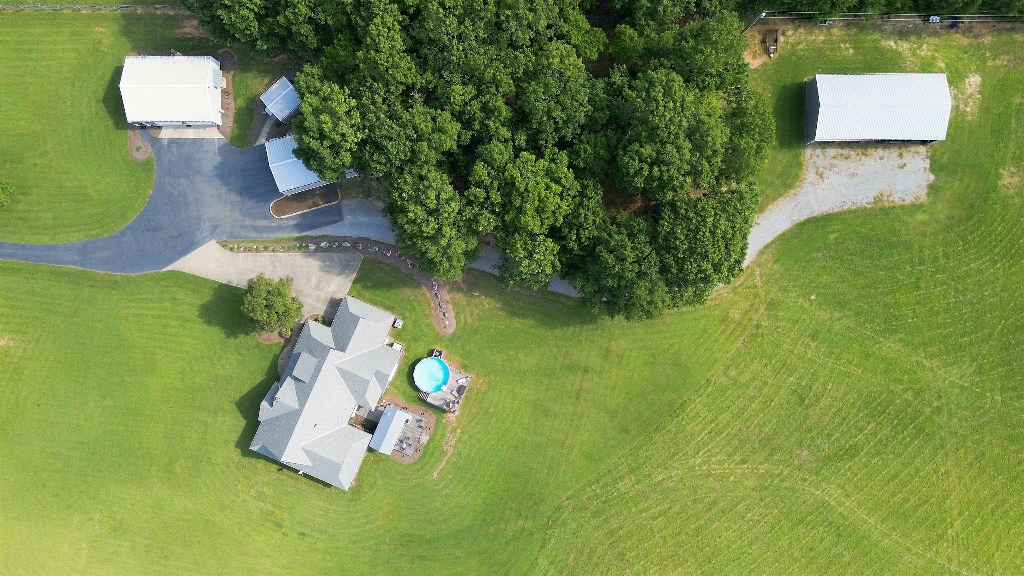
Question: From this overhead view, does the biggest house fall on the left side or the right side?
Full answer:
You can find the biggest house on the left side of the picture.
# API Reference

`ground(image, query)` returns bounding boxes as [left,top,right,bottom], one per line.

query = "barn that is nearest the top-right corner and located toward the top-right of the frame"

[806,73,952,149]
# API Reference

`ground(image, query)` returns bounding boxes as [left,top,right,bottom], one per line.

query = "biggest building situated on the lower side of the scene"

[250,294,402,492]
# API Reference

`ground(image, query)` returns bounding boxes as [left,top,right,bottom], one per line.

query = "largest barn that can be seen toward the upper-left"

[119,54,228,130]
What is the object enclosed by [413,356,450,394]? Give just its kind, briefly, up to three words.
swimming pool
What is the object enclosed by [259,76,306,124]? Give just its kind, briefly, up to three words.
shed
